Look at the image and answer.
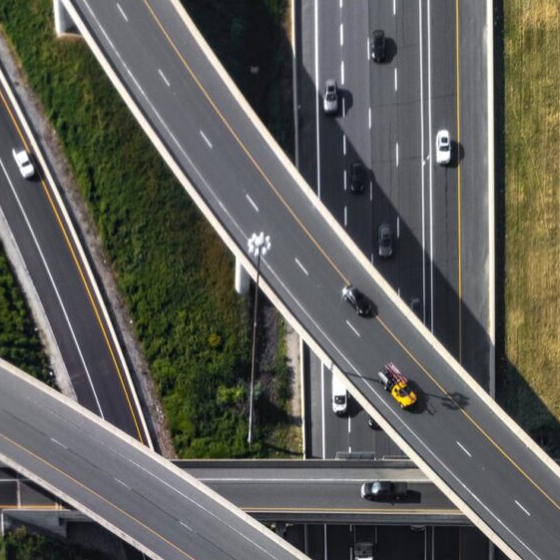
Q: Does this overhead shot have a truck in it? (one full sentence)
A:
Yes, the photo shows a truck.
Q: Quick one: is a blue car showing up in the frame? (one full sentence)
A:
No, I can't see a single blue car in this photo.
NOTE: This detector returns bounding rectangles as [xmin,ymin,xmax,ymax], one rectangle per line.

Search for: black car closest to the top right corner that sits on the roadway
[370,29,387,62]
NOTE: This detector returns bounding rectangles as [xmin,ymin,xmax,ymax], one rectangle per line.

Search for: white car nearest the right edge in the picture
[436,130,452,164]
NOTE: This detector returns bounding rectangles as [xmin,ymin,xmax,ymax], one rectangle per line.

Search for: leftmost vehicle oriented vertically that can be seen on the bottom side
[332,374,350,413]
